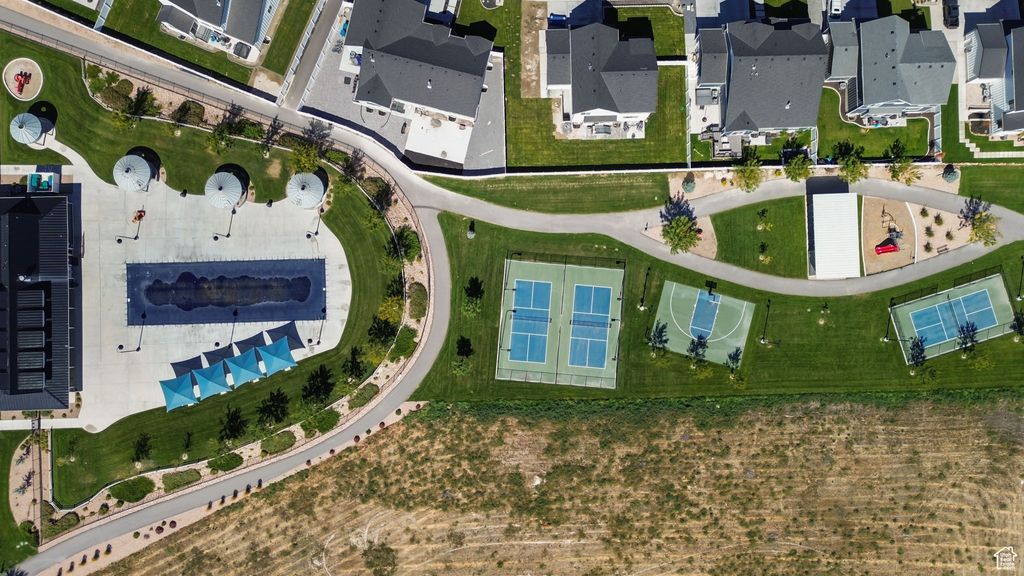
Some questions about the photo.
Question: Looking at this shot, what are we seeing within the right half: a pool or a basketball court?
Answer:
basketball court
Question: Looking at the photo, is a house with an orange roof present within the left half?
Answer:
No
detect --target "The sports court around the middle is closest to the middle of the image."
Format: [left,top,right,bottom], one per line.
[495,259,625,389]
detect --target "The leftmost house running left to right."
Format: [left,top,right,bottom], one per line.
[158,0,279,54]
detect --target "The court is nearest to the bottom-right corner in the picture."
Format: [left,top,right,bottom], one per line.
[889,273,1018,365]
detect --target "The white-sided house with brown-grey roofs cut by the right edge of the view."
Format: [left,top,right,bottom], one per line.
[960,23,1024,131]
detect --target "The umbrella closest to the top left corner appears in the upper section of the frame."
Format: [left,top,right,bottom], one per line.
[10,112,47,143]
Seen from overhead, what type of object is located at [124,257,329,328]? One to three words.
swimming pool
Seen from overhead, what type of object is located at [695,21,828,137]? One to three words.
house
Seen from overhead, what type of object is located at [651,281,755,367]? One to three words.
basketball court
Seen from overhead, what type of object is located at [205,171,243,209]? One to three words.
umbrella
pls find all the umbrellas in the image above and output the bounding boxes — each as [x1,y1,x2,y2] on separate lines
[205,171,243,209]
[286,171,324,209]
[10,112,47,143]
[113,154,152,192]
